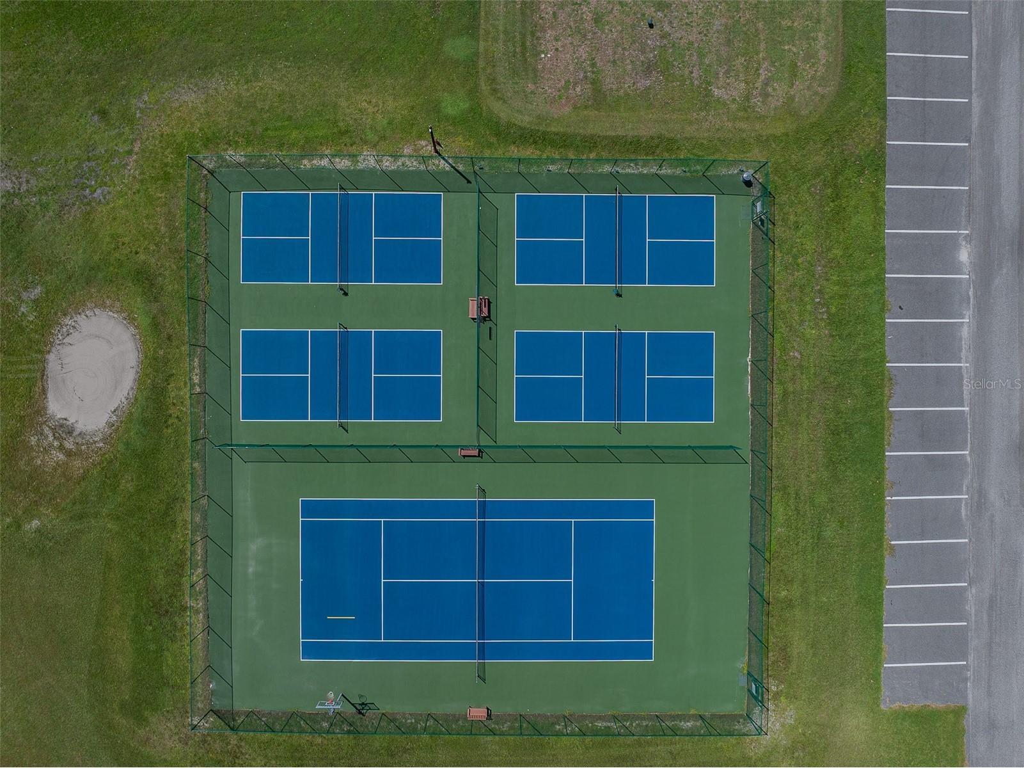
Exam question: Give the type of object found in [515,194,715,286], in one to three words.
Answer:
sports court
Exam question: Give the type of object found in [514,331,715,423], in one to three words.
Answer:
sports court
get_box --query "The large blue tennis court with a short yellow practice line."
[300,498,655,661]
